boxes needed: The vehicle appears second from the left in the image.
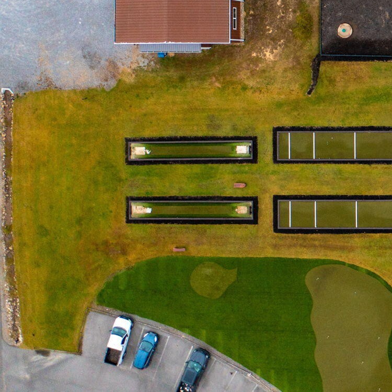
[133,328,162,370]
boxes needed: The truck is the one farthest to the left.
[102,312,137,367]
